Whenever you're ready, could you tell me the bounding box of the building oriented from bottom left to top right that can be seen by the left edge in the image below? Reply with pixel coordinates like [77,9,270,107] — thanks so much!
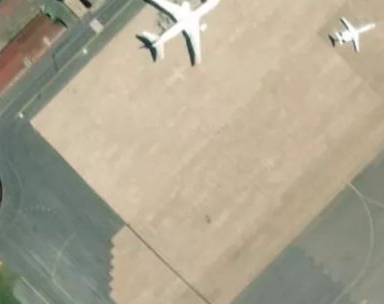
[0,11,68,96]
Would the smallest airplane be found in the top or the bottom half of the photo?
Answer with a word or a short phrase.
top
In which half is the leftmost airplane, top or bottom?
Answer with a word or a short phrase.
top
